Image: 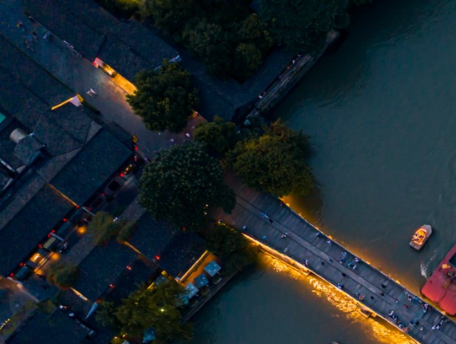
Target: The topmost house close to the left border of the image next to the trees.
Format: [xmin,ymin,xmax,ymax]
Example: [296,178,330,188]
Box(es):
[22,0,126,62]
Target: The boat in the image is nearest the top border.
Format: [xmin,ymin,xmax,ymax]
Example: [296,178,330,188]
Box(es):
[409,224,429,252]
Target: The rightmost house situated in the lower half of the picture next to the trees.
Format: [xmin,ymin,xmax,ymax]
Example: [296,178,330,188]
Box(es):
[150,223,210,279]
